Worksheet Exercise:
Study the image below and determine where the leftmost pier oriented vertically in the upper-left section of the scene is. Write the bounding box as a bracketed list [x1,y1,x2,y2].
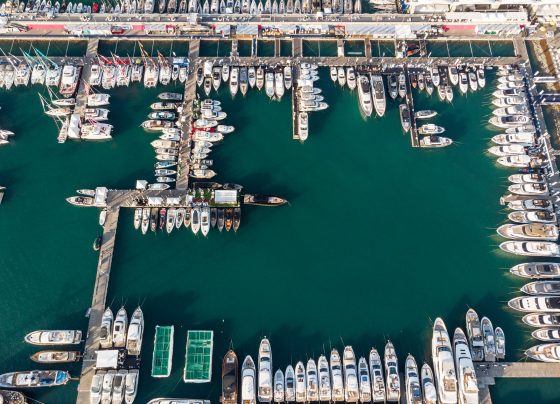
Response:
[68,65,90,138]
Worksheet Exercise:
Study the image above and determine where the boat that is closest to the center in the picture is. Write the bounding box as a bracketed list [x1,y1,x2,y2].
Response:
[244,194,288,207]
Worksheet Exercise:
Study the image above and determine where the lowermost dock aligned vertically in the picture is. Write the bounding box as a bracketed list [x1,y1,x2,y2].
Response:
[75,207,120,404]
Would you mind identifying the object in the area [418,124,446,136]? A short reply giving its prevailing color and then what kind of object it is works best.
white boat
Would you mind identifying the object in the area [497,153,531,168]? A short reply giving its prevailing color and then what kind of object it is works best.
white boat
